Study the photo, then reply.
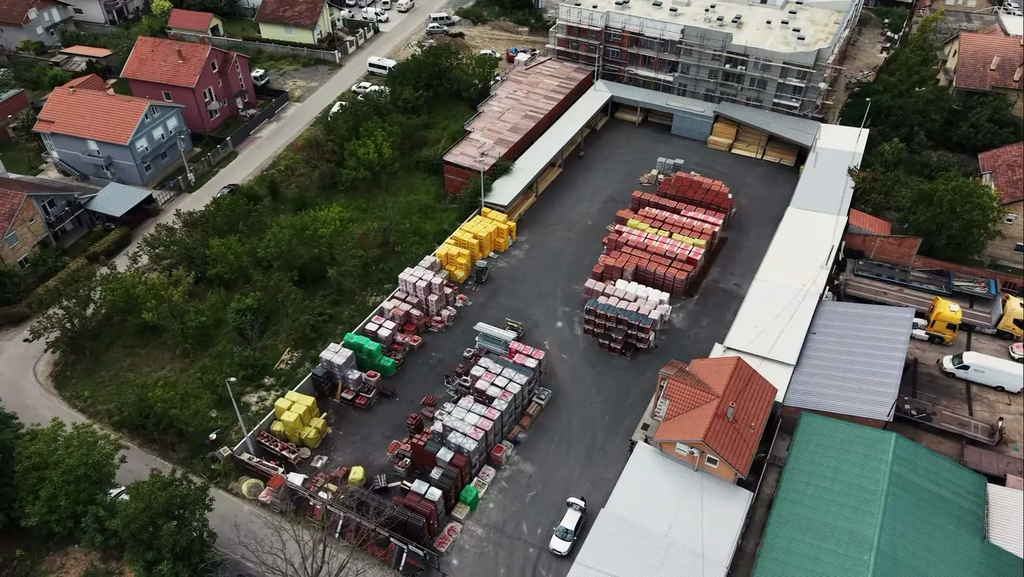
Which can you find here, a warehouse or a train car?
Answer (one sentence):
There is a warehouse in the scene.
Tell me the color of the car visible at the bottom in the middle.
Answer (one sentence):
The car visible at the bottom in the middle looks white in the image.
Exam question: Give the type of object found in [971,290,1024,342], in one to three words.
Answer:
truck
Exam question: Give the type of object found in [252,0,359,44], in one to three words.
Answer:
house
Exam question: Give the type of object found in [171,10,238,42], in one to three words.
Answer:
house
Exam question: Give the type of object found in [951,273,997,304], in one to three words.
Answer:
trailer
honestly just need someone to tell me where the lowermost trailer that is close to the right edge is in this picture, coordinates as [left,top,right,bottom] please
[895,395,1005,446]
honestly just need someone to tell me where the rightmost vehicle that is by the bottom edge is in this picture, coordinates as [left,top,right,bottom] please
[549,488,588,557]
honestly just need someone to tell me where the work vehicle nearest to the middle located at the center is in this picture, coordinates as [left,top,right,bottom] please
[466,260,492,292]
